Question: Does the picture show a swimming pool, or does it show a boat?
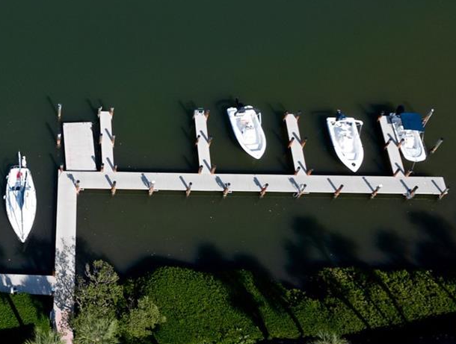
boat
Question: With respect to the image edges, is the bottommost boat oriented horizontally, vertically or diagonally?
vertically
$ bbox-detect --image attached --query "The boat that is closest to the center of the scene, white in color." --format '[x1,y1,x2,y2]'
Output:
[227,98,264,161]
